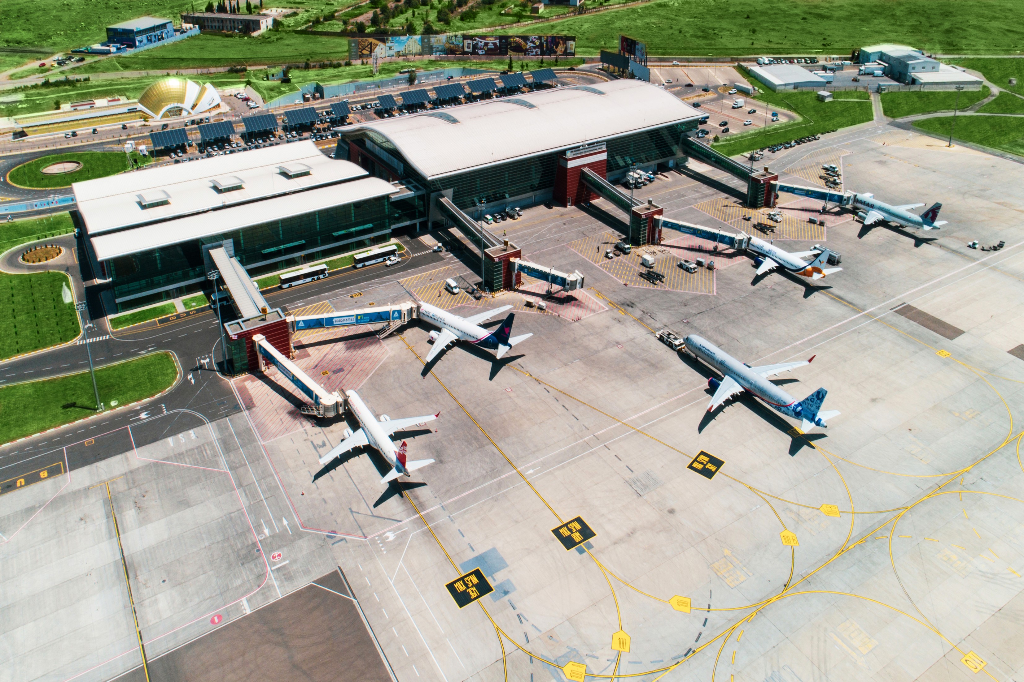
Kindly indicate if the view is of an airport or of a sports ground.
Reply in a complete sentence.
This image shows an airport.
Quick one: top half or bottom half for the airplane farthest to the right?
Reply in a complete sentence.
The airplane farthest to the right sits in the top half of the picture.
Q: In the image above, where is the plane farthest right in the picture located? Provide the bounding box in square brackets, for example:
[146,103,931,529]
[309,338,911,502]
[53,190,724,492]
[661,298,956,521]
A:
[853,190,949,229]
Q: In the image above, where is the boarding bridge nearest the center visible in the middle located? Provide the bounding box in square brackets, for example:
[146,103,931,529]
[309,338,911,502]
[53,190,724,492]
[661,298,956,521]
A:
[511,257,584,299]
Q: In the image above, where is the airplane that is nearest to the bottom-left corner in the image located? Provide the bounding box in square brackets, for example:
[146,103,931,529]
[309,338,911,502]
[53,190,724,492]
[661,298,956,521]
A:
[316,387,441,486]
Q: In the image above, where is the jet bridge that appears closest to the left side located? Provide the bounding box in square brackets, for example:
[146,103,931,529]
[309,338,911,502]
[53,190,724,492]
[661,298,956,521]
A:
[252,334,350,417]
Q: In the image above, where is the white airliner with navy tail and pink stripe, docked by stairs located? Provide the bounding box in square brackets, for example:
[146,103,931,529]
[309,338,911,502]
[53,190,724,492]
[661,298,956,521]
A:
[413,299,530,361]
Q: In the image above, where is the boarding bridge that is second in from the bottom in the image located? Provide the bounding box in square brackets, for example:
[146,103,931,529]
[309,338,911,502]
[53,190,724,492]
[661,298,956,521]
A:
[287,296,418,355]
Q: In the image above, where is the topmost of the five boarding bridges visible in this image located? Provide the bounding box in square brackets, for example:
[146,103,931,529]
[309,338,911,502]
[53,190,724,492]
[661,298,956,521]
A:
[772,180,856,216]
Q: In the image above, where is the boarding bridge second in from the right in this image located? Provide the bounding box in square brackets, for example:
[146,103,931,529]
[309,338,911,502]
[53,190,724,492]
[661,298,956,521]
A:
[656,214,746,258]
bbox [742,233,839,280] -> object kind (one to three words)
airplane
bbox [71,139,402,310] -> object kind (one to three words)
building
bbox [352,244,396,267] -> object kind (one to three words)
bus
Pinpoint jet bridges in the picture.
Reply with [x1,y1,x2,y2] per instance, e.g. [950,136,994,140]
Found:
[772,180,856,216]
[511,257,584,299]
[287,296,418,355]
[656,214,746,258]
[252,334,350,417]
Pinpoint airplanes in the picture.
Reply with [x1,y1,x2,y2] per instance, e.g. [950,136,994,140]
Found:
[413,299,530,361]
[316,387,441,486]
[742,233,839,280]
[681,332,838,431]
[853,190,949,229]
